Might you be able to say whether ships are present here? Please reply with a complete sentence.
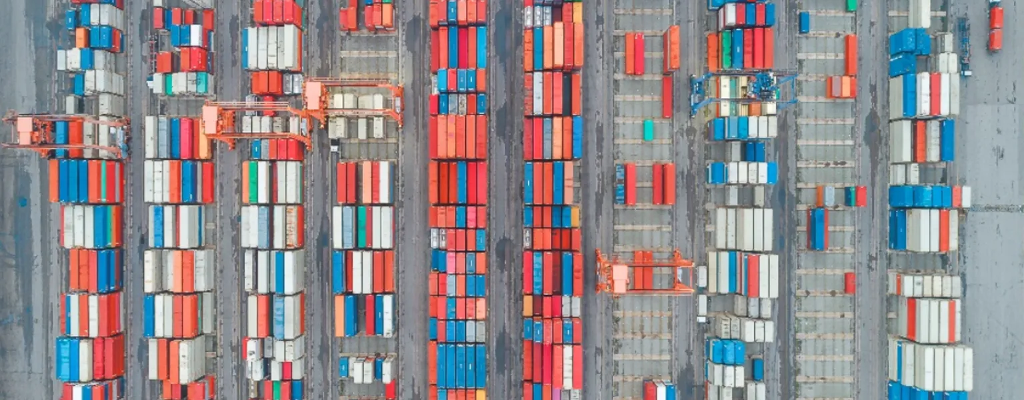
No, there appears to be no ship in this shot.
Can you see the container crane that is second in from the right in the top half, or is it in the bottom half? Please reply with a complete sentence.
You can find the container crane that is second in from the right in the bottom half.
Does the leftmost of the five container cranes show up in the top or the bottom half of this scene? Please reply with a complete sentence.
It is in the top half that the leftmost of the five container cranes appears.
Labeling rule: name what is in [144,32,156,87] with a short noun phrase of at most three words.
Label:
vehicle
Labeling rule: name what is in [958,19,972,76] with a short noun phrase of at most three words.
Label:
vehicle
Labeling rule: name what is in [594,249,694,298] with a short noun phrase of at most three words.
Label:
container crane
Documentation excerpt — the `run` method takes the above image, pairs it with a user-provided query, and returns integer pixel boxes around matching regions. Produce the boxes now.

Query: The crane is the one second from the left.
[201,101,312,150]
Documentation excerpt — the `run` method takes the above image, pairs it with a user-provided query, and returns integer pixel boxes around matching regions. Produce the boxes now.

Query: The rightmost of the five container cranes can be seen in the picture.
[689,67,799,118]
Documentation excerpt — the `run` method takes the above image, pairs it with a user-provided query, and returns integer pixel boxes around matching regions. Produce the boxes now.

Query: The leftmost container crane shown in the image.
[0,112,129,160]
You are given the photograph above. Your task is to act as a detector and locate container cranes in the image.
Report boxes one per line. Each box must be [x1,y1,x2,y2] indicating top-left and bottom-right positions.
[594,249,694,298]
[689,67,799,118]
[301,78,405,129]
[0,112,129,160]
[201,101,312,150]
